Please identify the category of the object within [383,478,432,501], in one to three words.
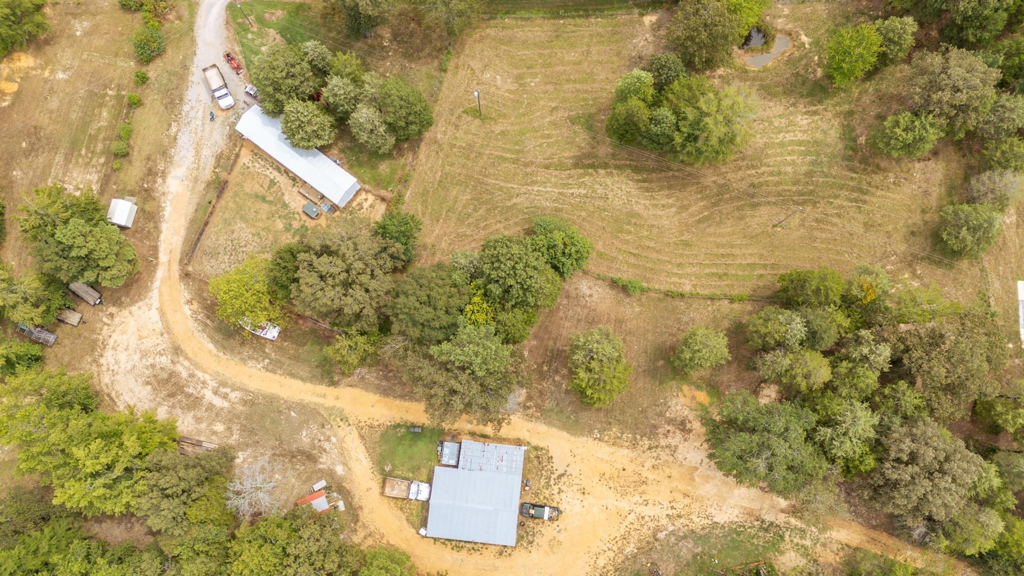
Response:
truck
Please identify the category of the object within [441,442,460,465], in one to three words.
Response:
shed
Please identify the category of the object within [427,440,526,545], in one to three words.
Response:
building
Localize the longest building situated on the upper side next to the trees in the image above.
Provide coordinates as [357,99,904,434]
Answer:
[237,106,359,207]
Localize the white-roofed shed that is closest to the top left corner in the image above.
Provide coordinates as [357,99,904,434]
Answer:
[106,199,137,226]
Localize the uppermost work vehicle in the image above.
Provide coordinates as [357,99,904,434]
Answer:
[222,50,248,78]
